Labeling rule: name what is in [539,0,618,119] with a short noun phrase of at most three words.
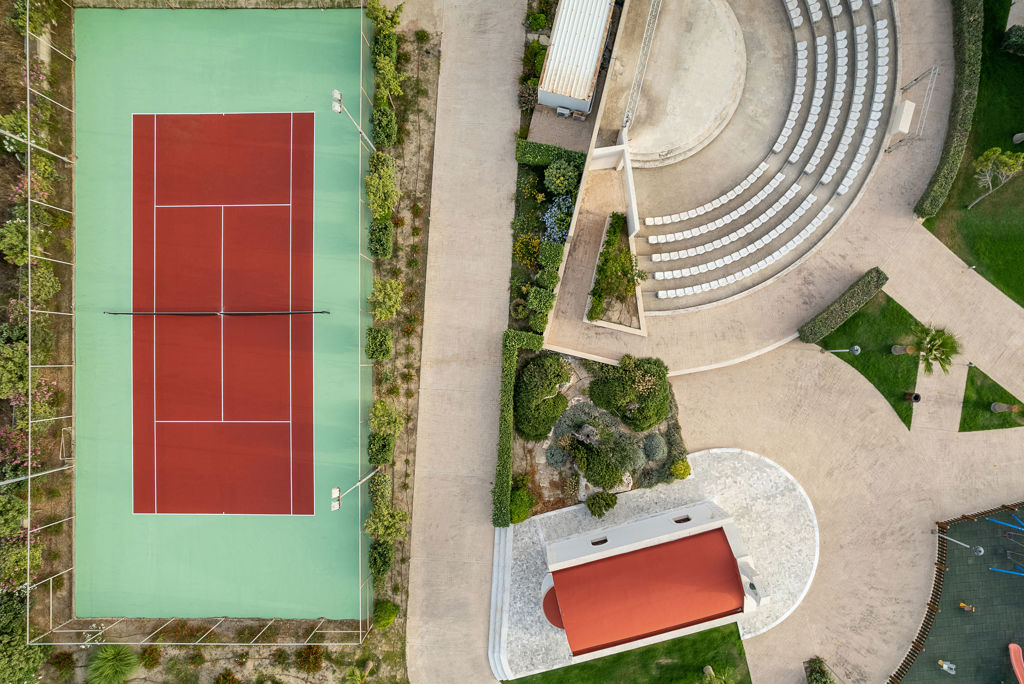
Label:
building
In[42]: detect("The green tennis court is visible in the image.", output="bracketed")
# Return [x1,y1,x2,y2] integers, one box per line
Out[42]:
[71,9,374,621]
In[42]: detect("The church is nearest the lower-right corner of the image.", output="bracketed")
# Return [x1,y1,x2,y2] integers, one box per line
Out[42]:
[540,501,763,662]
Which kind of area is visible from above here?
sports ground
